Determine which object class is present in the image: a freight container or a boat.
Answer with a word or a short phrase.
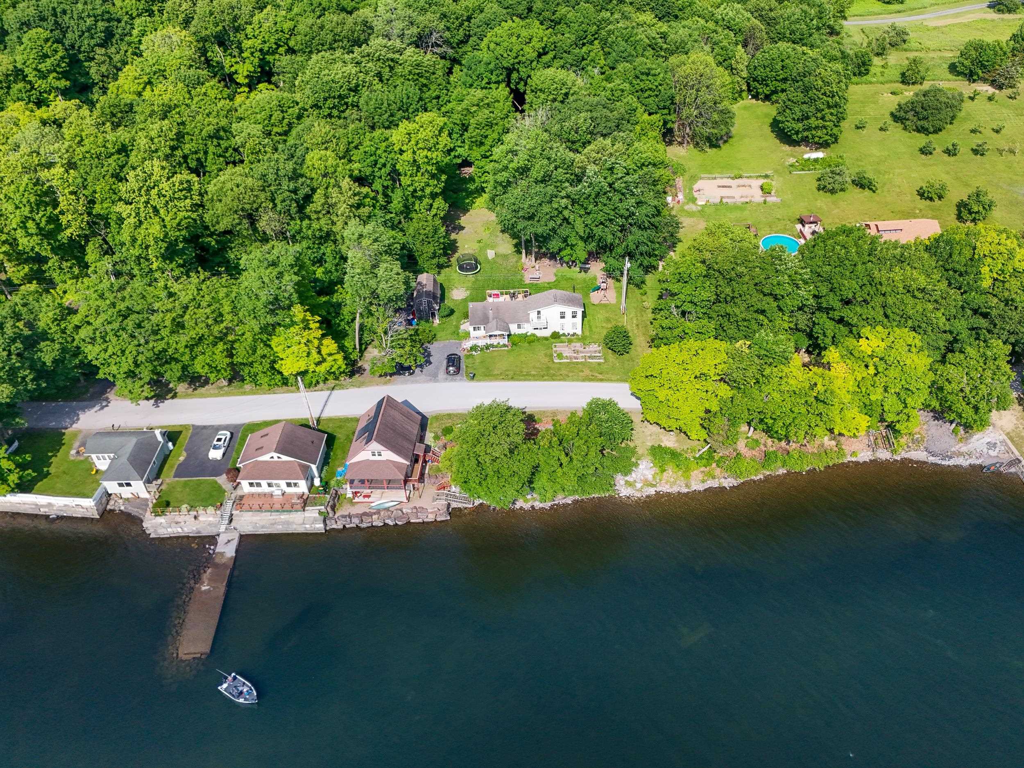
boat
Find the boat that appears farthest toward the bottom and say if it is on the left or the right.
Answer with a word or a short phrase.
left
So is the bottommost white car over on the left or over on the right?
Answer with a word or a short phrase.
left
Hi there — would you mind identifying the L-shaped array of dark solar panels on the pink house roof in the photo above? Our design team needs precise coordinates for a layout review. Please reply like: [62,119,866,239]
[355,398,382,451]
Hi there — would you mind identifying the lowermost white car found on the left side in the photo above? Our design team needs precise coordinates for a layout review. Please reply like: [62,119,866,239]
[207,430,230,459]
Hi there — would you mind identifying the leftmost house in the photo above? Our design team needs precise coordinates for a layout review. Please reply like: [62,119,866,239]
[84,426,174,497]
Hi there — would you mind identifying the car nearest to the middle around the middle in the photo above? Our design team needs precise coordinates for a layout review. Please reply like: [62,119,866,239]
[445,351,461,373]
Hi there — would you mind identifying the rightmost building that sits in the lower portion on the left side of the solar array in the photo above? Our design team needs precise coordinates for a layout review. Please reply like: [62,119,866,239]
[235,421,327,512]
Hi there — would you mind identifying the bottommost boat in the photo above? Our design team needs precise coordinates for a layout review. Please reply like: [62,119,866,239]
[218,673,260,704]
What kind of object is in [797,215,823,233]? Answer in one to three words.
gazebo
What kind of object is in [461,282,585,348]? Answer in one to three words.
house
